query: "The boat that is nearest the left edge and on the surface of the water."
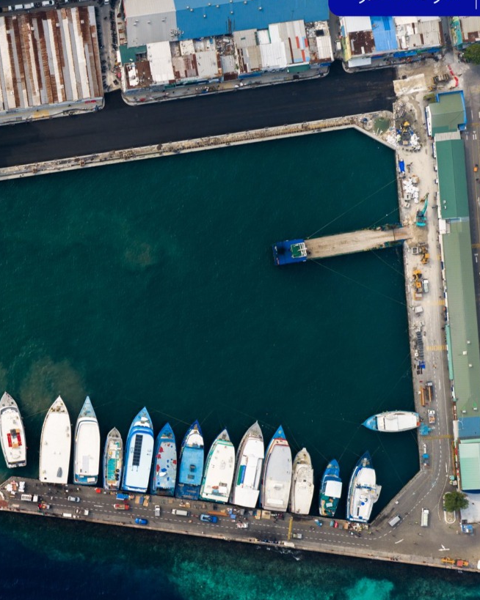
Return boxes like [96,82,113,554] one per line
[0,392,29,466]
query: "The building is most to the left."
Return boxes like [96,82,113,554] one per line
[0,5,103,119]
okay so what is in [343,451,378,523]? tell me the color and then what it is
white boat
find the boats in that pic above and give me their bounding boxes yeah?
[358,410,417,433]
[150,422,177,493]
[290,448,311,513]
[72,396,100,483]
[315,458,340,515]
[0,392,29,466]
[120,407,155,493]
[102,426,122,488]
[40,395,73,485]
[231,421,263,510]
[343,451,378,523]
[198,428,234,502]
[175,420,204,498]
[258,424,294,512]
[268,231,402,265]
